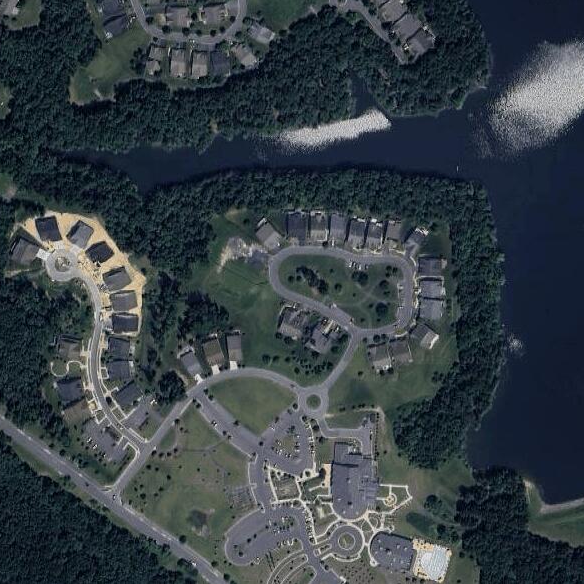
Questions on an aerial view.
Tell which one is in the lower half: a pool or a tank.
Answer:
pool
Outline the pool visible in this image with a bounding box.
[414,539,451,583]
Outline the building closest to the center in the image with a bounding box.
[277,302,312,339]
